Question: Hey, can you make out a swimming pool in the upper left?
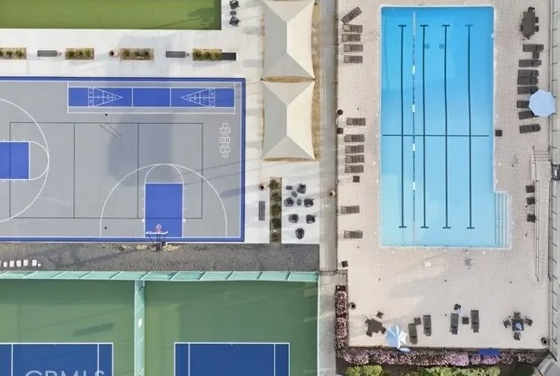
No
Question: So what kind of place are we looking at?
sports ground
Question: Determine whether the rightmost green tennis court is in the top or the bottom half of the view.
bottom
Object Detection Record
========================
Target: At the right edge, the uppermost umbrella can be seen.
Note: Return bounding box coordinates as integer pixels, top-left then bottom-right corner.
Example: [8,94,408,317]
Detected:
[528,90,555,116]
